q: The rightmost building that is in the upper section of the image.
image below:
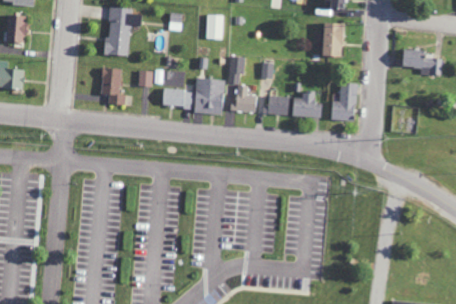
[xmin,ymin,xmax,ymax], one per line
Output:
[403,46,436,76]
